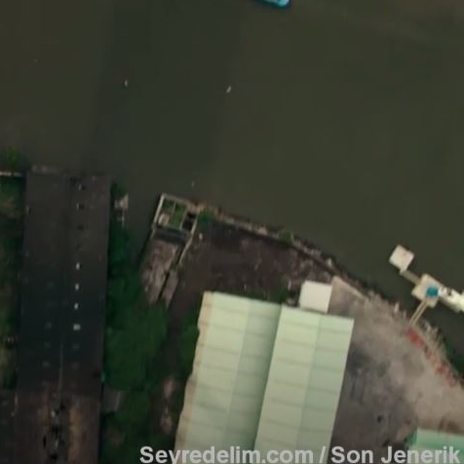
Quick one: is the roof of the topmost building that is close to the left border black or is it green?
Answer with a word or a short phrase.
black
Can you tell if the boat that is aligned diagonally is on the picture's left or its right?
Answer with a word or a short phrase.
right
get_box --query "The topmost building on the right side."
[293,281,333,312]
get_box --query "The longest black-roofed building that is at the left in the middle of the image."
[16,167,111,396]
